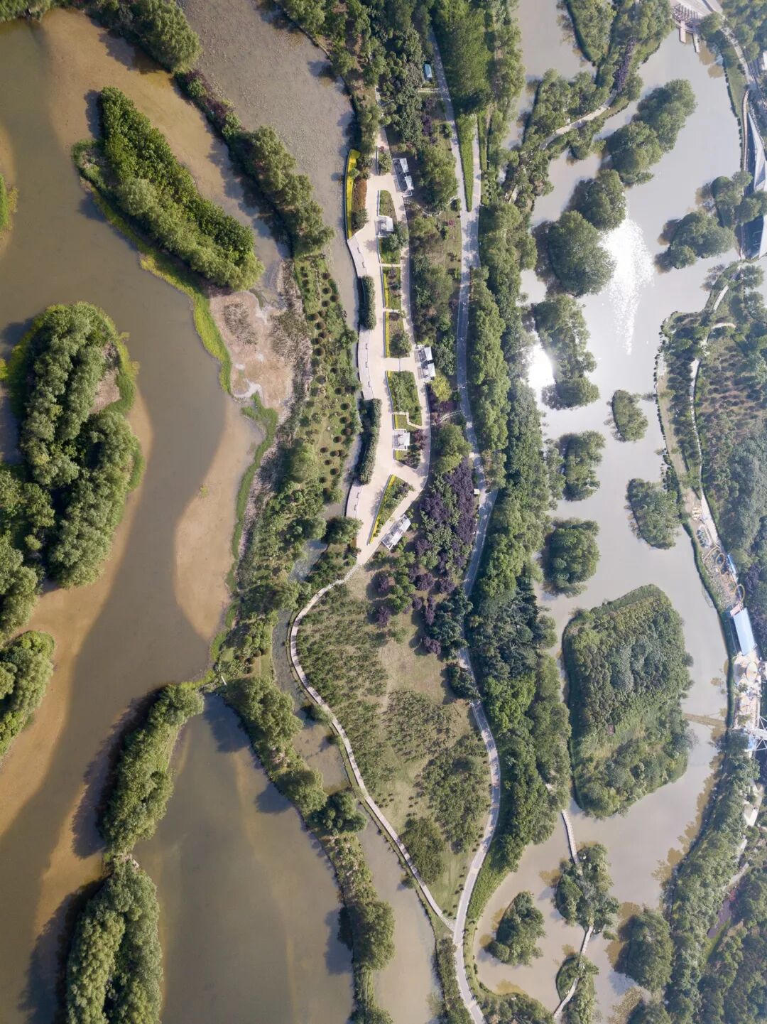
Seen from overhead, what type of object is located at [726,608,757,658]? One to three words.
building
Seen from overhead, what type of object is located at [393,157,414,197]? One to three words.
building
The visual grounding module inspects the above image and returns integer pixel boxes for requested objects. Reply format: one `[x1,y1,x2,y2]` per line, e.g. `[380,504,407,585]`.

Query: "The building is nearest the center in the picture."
[382,514,411,549]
